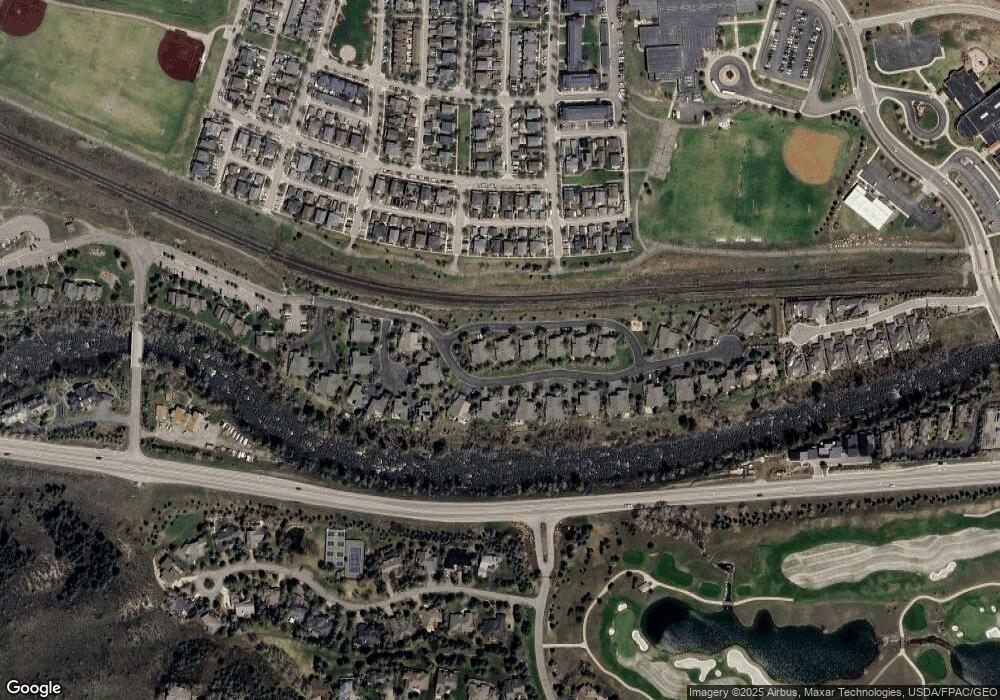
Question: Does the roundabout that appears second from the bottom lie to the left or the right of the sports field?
to its right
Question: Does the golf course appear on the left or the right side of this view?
right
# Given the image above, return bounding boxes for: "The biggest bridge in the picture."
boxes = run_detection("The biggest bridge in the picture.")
[131,326,144,370]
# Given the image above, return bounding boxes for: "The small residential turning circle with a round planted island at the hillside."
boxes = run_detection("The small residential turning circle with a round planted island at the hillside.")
[194,567,224,597]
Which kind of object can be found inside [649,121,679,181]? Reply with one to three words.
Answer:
sports court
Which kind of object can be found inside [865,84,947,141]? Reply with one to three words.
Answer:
roundabout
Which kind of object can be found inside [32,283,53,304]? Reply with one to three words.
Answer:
house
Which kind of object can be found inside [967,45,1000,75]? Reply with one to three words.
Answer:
playground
